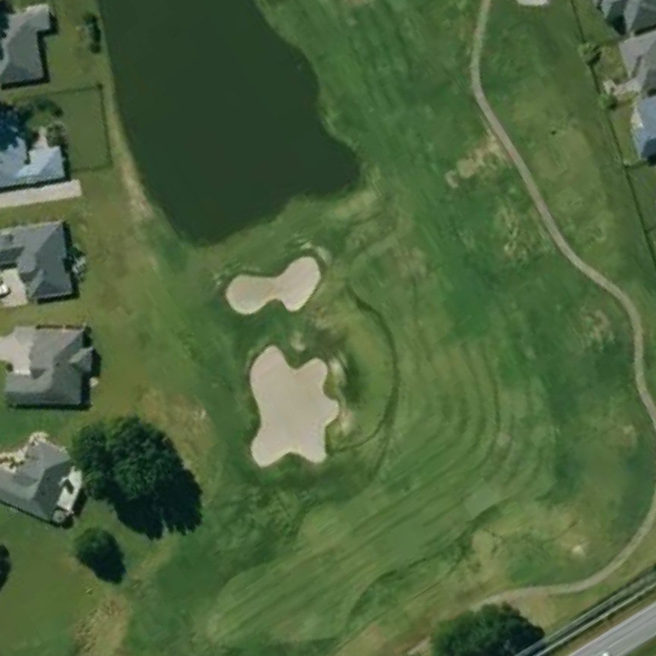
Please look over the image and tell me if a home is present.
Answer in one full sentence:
Yes, there's a home here.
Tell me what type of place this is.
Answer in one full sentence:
The area seen from above is a golf course.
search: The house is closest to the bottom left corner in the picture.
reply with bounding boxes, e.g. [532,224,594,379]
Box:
[0,438,90,527]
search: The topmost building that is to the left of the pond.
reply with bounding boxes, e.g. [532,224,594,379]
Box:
[0,4,51,83]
